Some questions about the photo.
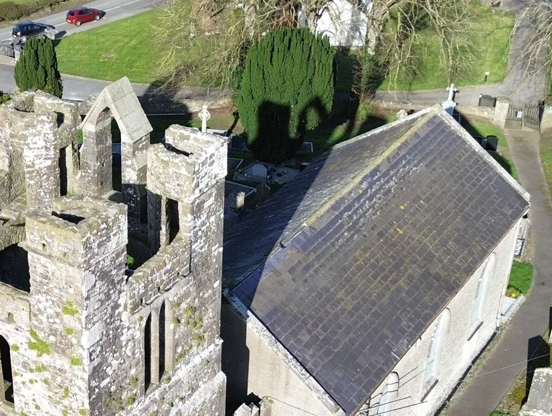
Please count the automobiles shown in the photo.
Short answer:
2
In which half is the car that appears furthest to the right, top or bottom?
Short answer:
top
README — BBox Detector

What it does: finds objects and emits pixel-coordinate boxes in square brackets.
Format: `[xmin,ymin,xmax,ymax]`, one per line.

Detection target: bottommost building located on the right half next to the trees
[222,67,534,416]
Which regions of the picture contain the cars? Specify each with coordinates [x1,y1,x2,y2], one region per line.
[8,18,55,38]
[64,4,106,26]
